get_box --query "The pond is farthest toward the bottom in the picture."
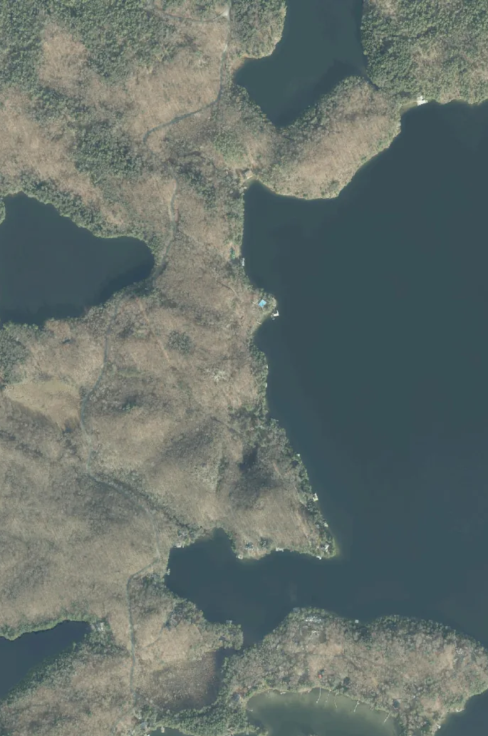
[0,622,88,695]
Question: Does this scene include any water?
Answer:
Yes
